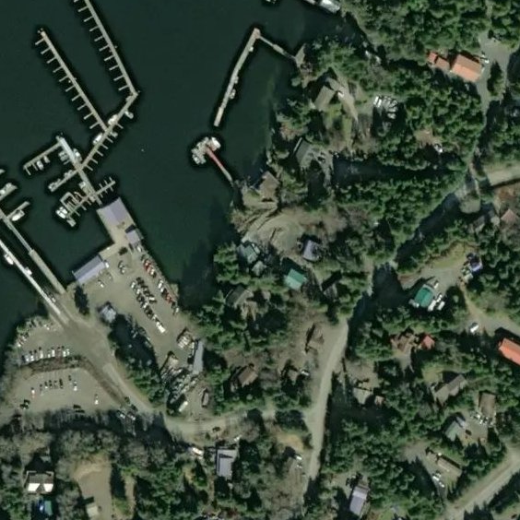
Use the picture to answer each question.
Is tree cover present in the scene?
Yes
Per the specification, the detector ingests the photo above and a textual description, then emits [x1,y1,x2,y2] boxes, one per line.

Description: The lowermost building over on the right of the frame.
[350,484,371,514]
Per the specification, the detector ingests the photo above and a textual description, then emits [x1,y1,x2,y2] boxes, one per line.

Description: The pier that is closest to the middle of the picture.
[191,137,235,187]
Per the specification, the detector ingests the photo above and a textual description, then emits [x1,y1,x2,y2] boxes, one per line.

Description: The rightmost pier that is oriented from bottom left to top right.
[214,27,295,125]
